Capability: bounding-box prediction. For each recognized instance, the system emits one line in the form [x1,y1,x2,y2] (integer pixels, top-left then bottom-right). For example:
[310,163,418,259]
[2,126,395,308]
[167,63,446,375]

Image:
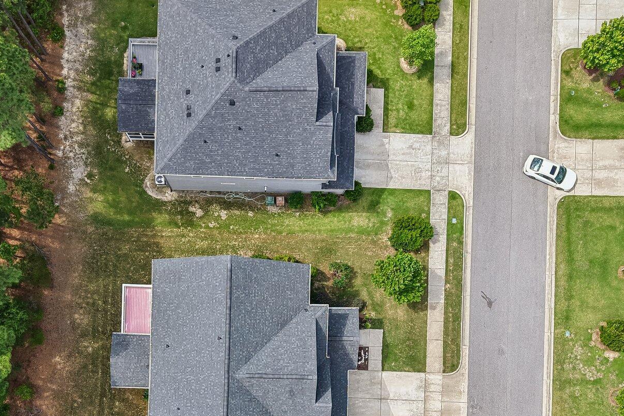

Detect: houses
[110,255,359,416]
[116,0,368,194]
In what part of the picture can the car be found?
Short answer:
right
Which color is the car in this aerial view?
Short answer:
white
